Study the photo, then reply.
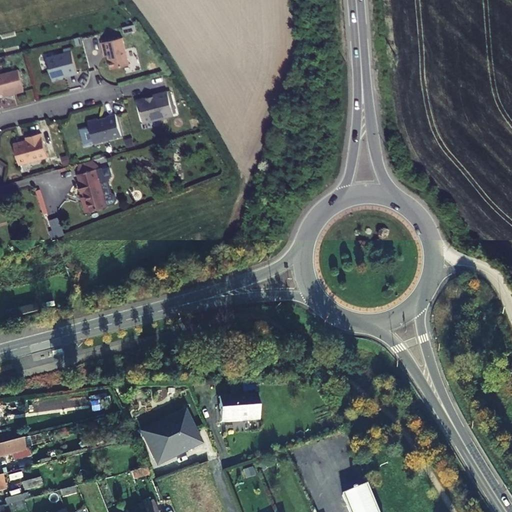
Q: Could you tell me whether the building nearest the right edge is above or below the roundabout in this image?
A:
below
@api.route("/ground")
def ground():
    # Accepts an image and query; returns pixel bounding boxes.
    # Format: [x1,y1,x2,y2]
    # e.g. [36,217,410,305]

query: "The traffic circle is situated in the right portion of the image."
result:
[292,182,445,335]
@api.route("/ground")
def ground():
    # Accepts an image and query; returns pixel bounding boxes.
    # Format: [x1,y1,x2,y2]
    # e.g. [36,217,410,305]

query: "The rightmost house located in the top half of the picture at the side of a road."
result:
[135,91,172,124]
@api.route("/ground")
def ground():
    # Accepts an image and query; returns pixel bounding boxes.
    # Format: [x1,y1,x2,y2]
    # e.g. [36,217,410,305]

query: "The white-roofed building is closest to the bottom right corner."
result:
[344,482,382,512]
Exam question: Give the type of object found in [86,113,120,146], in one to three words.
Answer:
house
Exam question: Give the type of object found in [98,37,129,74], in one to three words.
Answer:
house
